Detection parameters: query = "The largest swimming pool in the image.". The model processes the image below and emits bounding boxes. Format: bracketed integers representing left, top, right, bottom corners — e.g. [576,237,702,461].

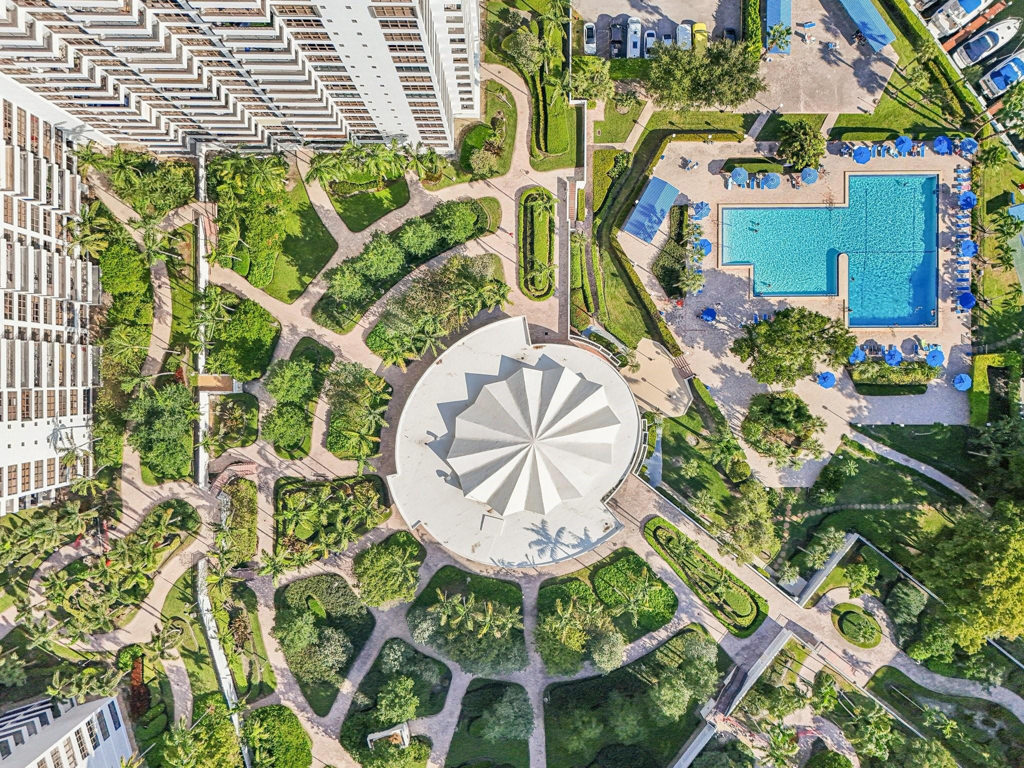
[712,169,949,334]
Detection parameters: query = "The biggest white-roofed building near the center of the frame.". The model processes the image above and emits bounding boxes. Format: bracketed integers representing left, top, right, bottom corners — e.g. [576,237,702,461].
[387,316,640,568]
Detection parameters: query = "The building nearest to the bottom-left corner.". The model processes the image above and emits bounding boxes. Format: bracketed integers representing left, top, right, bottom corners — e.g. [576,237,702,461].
[0,696,137,768]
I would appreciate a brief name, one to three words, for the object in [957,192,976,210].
umbrella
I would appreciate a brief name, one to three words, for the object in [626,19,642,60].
vehicle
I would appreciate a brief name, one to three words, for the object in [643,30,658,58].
car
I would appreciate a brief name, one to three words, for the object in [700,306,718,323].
umbrella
